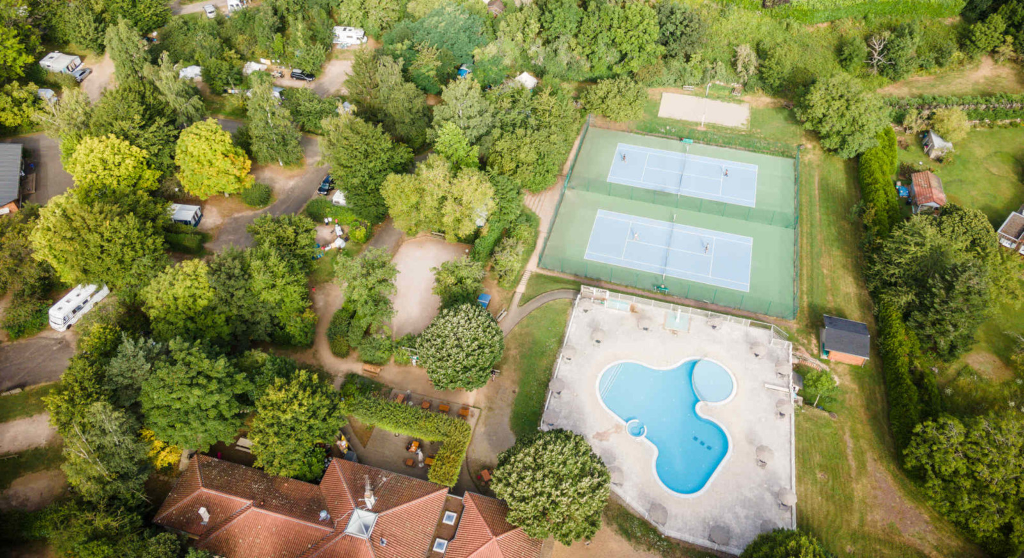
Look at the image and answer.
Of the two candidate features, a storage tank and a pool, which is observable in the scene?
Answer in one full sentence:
Looking from above, you can make out a pool.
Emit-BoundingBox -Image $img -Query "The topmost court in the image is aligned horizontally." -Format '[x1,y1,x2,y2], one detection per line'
[658,82,750,128]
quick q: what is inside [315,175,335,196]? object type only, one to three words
car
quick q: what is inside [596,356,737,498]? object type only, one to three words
swimming pool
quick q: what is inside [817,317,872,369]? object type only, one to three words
shed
